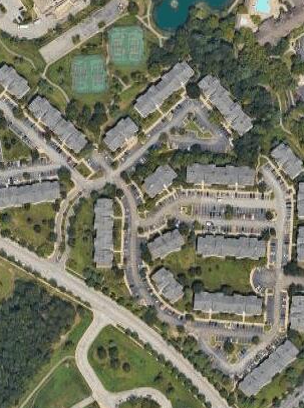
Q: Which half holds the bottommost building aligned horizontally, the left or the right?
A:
right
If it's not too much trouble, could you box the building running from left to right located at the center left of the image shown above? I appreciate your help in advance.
[0,184,62,209]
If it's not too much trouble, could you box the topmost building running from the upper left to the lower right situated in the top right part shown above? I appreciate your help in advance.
[197,77,252,135]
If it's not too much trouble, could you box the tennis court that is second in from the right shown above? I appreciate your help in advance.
[109,27,127,65]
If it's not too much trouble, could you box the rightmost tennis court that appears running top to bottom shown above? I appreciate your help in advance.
[126,27,144,65]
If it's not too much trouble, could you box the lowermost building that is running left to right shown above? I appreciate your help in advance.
[193,292,262,316]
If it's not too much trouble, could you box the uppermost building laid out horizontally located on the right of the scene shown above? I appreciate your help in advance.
[186,165,255,188]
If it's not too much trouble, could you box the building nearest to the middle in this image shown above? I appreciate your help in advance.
[142,164,175,199]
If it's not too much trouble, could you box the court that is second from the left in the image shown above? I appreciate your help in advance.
[90,57,107,94]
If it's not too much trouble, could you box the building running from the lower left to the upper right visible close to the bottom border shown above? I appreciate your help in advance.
[243,342,297,393]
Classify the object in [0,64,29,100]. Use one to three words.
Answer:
building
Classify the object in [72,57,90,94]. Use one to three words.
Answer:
tennis court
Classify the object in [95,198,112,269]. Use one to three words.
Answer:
building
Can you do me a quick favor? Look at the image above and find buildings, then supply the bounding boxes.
[186,165,255,188]
[102,118,138,153]
[95,198,112,269]
[142,164,175,199]
[270,146,304,179]
[133,63,194,117]
[149,232,184,260]
[243,342,297,393]
[0,64,29,100]
[297,183,304,219]
[297,226,304,264]
[193,292,262,316]
[197,77,252,135]
[290,296,304,334]
[0,184,62,209]
[151,271,185,302]
[196,236,266,259]
[31,98,87,155]
[258,0,304,45]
